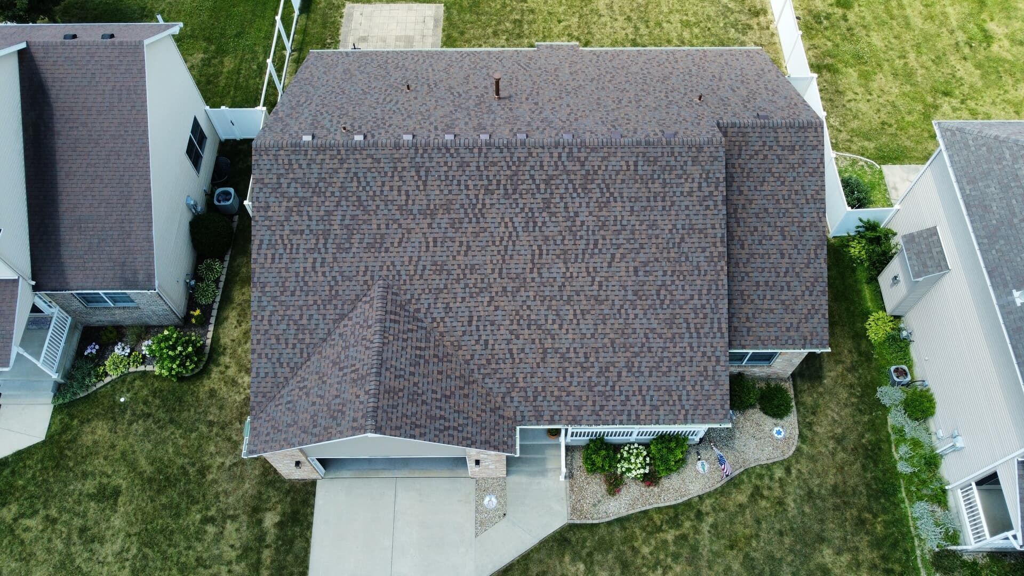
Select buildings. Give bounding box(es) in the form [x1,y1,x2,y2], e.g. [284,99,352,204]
[0,21,223,403]
[238,42,831,479]
[877,117,1024,551]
